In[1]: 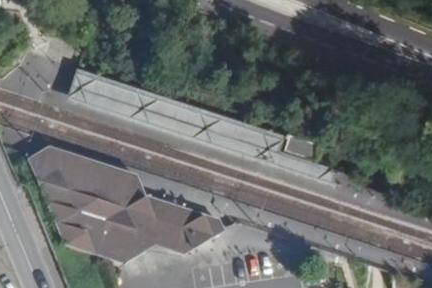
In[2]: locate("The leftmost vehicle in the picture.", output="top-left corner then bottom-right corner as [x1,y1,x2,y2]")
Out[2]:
[0,274,15,288]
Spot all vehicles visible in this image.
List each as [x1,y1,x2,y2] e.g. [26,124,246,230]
[262,254,273,276]
[235,256,246,278]
[249,255,260,278]
[0,274,15,288]
[34,269,49,288]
